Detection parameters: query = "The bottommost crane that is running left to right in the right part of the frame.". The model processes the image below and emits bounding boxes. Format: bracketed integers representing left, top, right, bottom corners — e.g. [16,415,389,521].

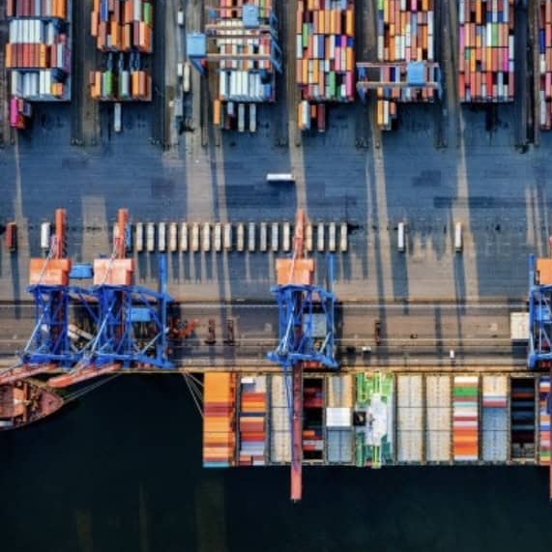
[357,63,442,96]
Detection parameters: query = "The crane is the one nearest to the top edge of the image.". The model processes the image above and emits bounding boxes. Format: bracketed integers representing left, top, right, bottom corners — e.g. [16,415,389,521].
[206,9,285,40]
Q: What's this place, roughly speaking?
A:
port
